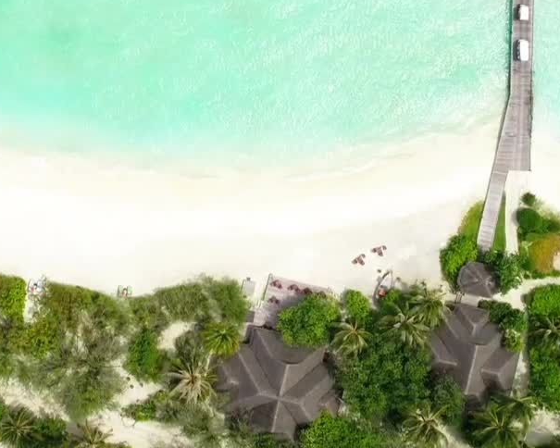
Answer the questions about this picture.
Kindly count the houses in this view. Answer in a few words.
2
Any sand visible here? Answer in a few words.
Yes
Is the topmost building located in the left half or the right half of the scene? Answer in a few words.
right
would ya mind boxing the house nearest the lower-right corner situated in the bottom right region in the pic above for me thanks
[429,303,521,405]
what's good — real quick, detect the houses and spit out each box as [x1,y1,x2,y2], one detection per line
[429,303,521,405]
[215,325,341,440]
